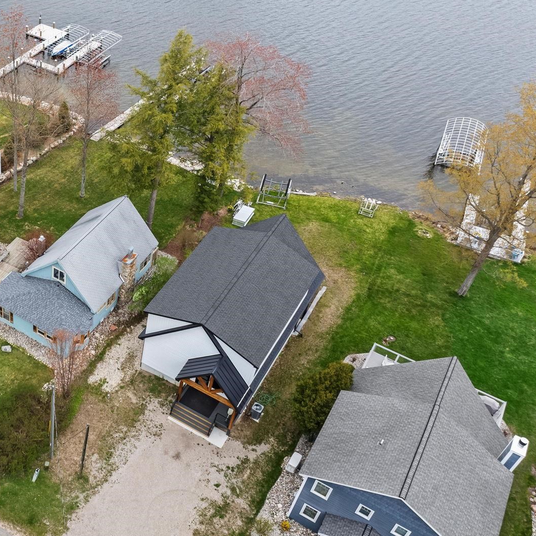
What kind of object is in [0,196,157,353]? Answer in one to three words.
house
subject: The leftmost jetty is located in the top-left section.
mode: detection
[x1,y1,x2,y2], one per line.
[0,16,106,82]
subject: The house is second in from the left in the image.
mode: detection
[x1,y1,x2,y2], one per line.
[135,213,328,446]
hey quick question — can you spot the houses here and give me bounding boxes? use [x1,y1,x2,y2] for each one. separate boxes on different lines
[287,343,533,536]
[0,196,157,353]
[135,213,328,446]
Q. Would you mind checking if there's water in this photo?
Yes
